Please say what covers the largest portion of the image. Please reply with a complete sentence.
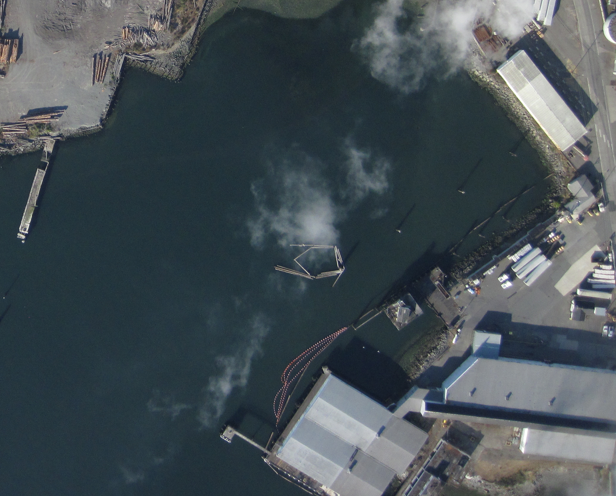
The bulk of the photo consists of water.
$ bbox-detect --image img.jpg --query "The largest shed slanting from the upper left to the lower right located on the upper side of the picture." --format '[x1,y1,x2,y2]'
[493,50,587,151]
